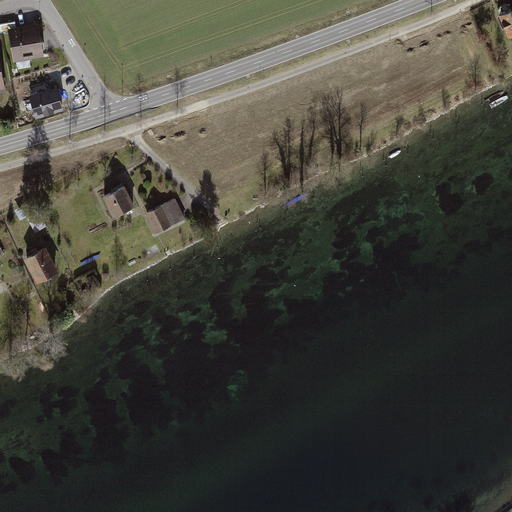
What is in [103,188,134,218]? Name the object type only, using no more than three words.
house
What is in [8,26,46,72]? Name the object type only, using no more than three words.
house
